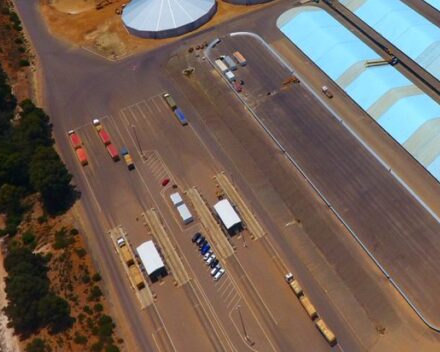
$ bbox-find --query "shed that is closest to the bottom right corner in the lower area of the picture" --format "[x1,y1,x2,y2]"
[213,198,243,237]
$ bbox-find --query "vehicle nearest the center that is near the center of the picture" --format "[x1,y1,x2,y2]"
[212,188,229,200]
